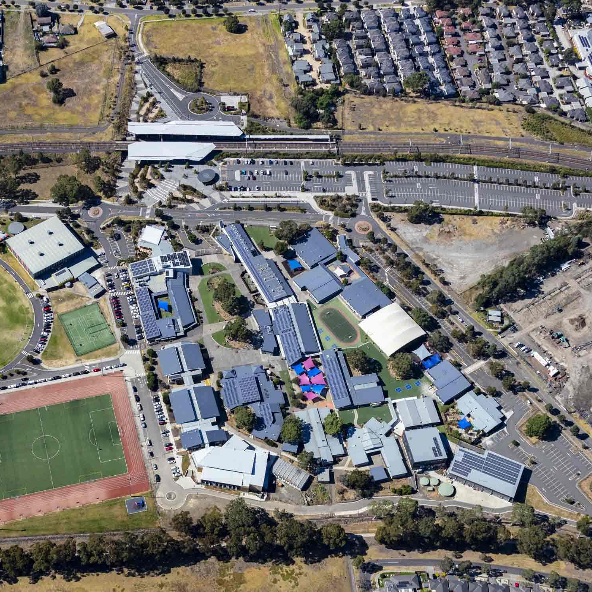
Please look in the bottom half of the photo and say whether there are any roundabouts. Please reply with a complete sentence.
No, the scene shows no roundabout in the bottom half of the photo.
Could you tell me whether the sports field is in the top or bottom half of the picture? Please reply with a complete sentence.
The sports field is in the bottom half of the image.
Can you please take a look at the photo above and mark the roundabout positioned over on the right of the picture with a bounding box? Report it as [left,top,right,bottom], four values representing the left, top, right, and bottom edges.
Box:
[345,212,384,243]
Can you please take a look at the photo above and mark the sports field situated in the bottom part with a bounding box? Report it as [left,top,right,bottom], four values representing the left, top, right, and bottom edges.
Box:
[0,394,128,500]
